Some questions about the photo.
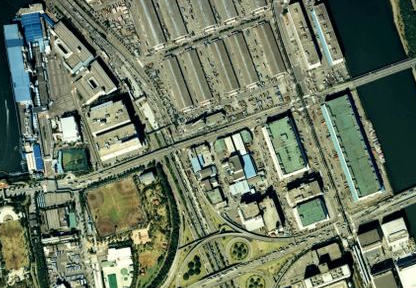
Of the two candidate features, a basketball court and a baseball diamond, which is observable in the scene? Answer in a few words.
baseball diamond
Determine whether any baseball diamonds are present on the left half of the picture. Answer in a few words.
Yes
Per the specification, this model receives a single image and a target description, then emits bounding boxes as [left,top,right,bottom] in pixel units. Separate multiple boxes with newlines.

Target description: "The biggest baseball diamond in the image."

[88,175,148,237]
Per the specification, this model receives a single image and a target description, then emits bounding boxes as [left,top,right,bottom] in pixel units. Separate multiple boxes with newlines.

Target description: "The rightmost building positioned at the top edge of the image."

[312,2,345,66]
